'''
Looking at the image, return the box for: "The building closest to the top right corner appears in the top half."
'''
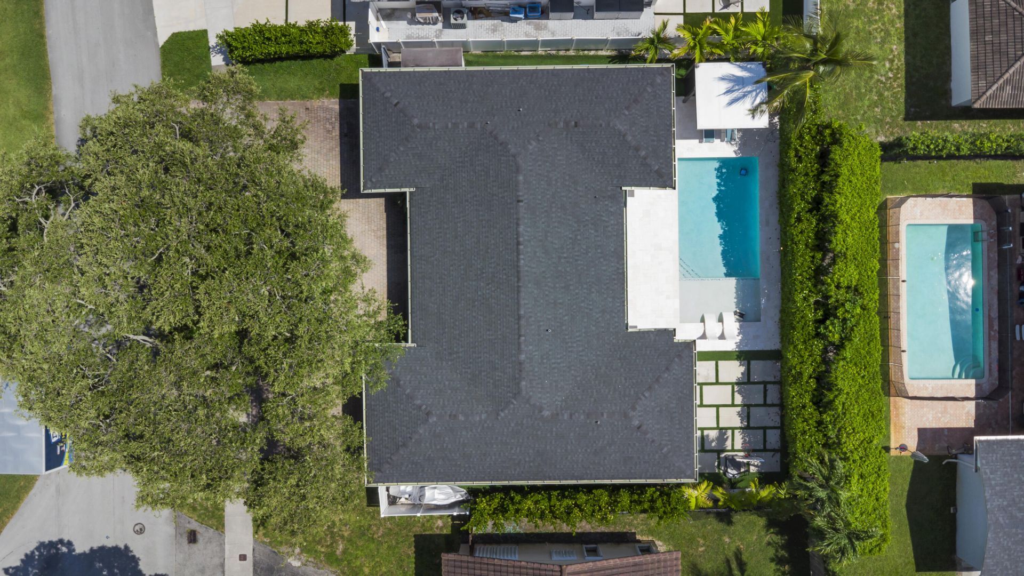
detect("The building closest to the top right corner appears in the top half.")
[951,0,1024,110]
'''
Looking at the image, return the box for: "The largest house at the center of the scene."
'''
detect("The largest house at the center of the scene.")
[360,62,697,489]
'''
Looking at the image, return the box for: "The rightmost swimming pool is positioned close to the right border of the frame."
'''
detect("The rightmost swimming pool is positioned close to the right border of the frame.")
[900,218,991,386]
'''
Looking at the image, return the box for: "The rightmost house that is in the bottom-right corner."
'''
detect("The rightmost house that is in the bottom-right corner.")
[942,434,1024,576]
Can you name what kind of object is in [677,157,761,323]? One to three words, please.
swimming pool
